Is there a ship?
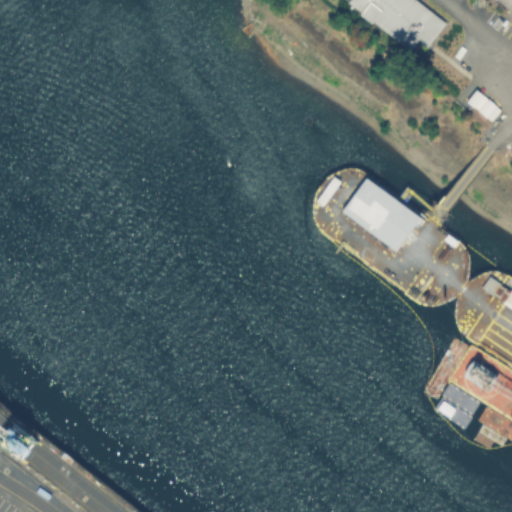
Yes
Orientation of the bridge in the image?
diagonally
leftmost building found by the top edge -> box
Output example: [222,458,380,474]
[352,0,448,57]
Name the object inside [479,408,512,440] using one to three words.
ship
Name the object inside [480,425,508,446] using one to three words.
ship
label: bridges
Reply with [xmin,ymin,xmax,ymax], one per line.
[441,144,497,209]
